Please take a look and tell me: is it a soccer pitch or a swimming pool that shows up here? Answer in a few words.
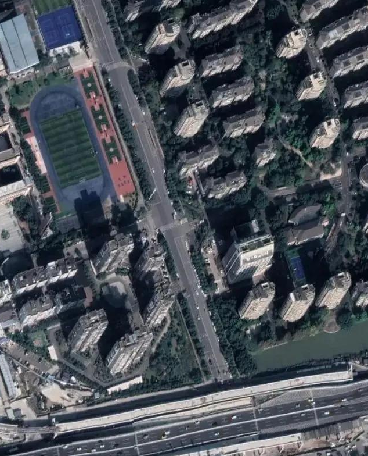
soccer pitch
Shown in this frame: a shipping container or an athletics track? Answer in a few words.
athletics track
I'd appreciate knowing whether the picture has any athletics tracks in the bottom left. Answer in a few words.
No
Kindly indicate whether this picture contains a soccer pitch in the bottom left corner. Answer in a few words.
No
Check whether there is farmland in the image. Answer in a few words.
No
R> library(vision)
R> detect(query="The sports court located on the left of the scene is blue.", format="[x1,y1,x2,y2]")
[38,6,82,49]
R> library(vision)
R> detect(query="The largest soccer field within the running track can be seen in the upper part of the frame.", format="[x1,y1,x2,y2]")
[41,110,102,188]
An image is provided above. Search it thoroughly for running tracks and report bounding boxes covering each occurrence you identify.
[30,74,115,208]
